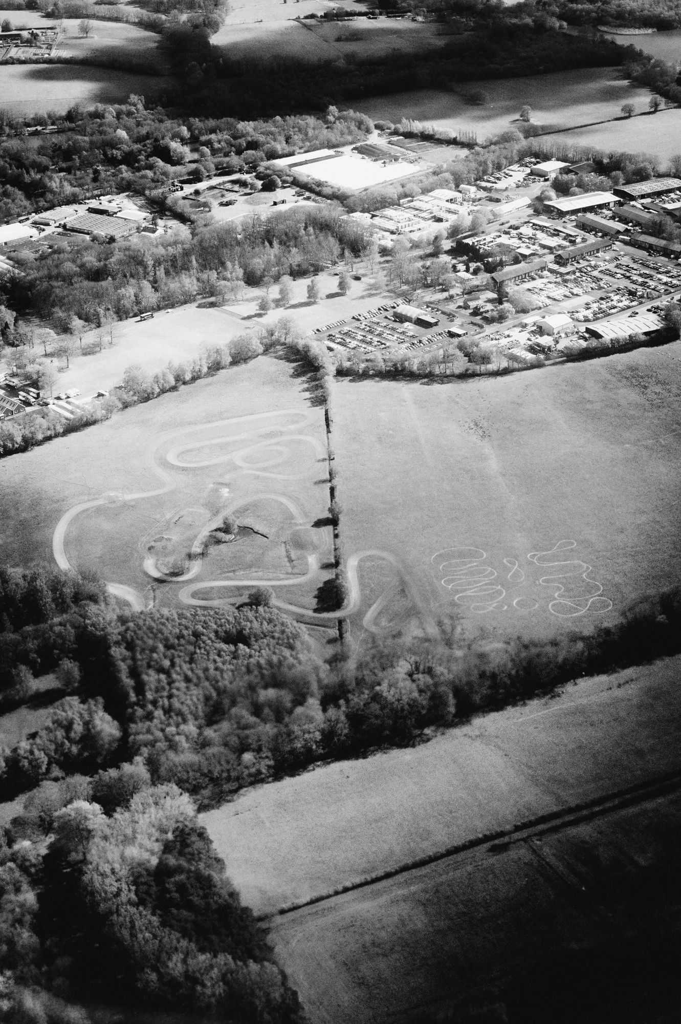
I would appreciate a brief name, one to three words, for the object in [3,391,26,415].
barn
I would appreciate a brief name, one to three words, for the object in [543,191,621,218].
building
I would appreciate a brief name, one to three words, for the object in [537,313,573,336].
shed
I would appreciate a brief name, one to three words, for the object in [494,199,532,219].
shed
